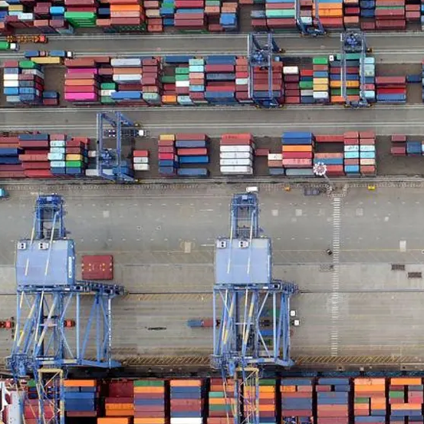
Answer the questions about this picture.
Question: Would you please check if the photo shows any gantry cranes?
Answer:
Yes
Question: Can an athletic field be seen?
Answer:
No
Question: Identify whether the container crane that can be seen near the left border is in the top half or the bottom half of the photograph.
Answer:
bottom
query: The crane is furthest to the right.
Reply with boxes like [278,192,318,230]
[341,29,376,105]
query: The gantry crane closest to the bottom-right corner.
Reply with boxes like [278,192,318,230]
[207,195,303,424]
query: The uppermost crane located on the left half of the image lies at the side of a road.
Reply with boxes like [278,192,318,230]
[96,109,144,180]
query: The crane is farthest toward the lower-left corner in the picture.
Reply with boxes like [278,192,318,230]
[4,195,127,424]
